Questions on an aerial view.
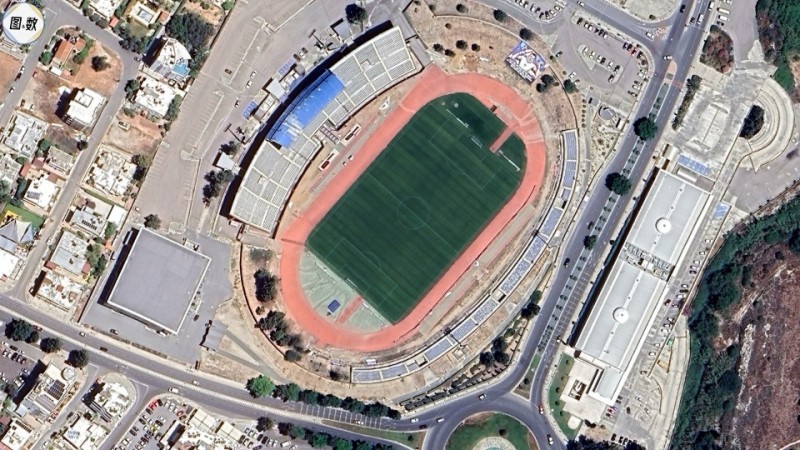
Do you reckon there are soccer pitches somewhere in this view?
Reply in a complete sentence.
Yes, this view includes a soccer pitch.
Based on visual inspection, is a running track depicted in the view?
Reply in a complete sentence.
Yes, a running track appears in the view.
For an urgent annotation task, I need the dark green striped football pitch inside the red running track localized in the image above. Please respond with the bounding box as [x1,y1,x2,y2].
[309,92,526,323]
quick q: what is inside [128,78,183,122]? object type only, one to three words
house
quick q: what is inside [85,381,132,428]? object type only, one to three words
building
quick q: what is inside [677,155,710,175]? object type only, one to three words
solar array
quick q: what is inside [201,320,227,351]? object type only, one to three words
shed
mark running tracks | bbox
[277,62,546,351]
